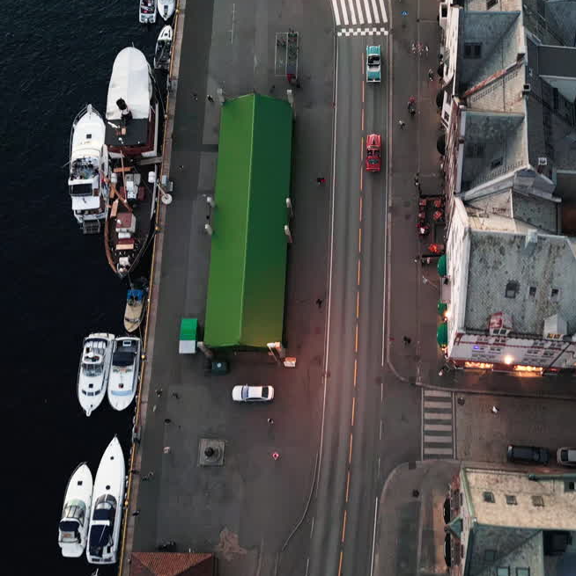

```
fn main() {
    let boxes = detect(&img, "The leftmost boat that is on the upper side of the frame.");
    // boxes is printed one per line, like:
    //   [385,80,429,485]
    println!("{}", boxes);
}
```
[64,100,109,235]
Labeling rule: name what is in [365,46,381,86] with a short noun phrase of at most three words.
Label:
car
